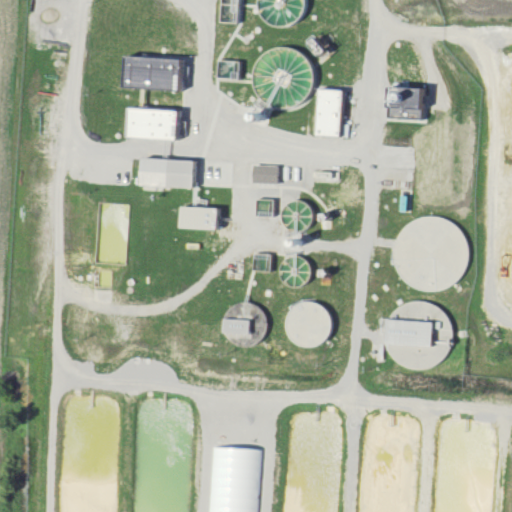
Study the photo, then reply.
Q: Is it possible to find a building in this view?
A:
Yes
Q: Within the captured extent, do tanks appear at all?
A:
Yes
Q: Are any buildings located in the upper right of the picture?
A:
Yes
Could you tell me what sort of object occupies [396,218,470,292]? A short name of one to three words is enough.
storage tank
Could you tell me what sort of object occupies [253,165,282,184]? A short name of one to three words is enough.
shed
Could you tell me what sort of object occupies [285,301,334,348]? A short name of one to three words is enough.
storage tank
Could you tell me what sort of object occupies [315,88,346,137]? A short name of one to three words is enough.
building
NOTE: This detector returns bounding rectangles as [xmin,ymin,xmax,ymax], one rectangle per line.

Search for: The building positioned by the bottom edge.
[212,446,264,512]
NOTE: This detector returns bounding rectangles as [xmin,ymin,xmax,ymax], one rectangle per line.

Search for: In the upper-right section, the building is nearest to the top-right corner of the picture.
[388,86,426,120]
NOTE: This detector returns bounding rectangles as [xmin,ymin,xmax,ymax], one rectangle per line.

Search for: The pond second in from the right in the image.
[360,414,420,512]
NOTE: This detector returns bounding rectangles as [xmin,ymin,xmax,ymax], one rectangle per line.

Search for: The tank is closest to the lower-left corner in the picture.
[222,302,270,348]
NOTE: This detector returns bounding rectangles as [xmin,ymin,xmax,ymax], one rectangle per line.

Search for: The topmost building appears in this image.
[122,57,186,91]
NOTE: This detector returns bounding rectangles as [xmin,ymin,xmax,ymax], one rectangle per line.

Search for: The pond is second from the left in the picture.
[134,395,193,512]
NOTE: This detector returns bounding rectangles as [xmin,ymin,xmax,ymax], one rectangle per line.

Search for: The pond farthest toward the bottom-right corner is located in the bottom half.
[434,418,497,512]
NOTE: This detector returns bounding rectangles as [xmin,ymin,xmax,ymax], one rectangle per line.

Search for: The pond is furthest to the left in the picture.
[61,392,120,512]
